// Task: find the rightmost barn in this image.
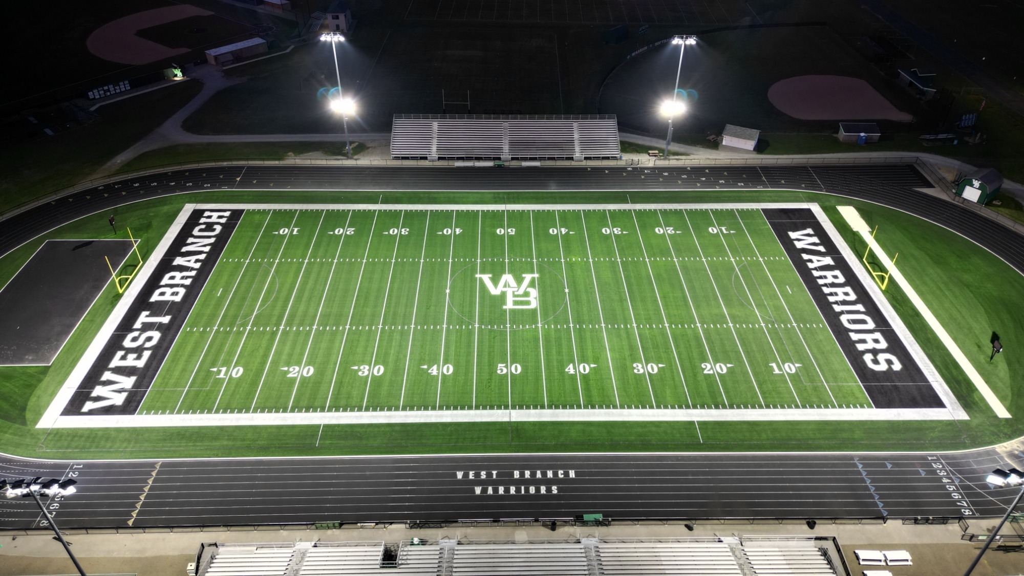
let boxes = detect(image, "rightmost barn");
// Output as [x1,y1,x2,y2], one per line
[957,167,1006,207]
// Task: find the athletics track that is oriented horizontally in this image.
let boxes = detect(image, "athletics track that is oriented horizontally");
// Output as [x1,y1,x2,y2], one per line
[0,163,1024,533]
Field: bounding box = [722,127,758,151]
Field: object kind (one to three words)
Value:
shed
